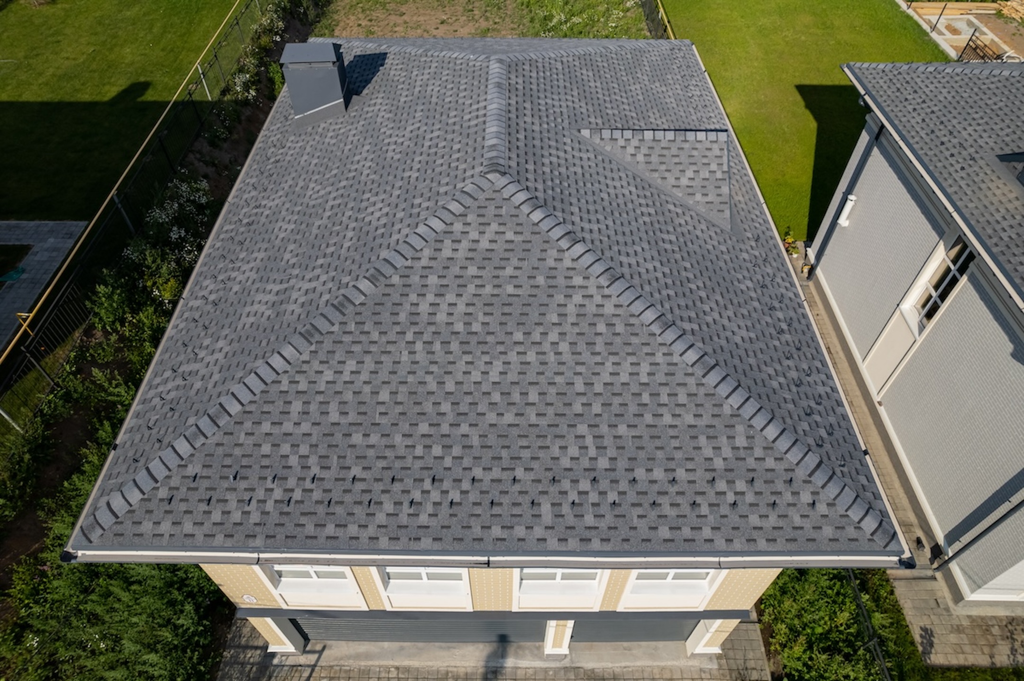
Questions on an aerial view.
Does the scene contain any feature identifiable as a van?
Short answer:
No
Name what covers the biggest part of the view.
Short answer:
buildings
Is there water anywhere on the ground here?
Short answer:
No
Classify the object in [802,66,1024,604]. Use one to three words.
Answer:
house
